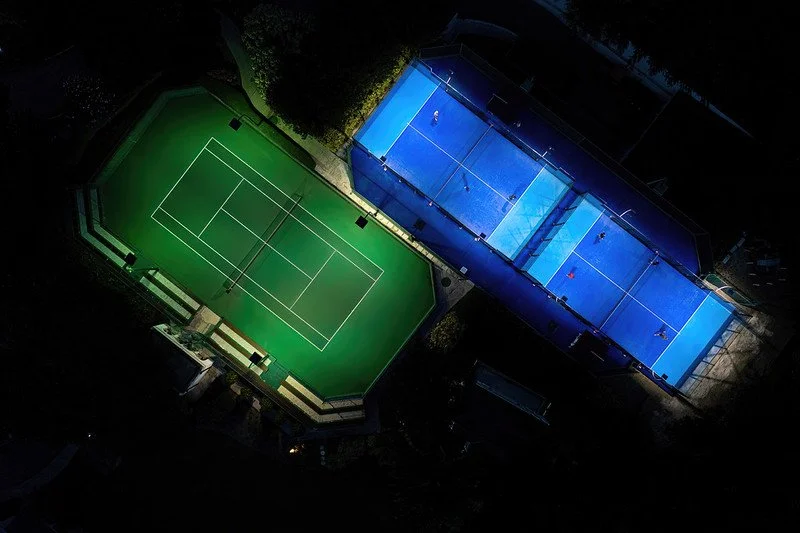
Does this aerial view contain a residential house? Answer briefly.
Yes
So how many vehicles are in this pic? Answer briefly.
0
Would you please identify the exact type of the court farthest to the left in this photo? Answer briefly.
tennis court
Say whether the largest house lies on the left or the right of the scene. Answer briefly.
left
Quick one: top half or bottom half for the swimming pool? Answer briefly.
bottom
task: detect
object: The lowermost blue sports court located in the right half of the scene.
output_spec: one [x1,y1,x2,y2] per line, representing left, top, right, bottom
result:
[521,196,731,389]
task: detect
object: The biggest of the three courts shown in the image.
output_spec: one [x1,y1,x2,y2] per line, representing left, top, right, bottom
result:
[101,91,435,398]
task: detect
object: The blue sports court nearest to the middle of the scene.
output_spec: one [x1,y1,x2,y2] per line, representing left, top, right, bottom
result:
[356,67,566,260]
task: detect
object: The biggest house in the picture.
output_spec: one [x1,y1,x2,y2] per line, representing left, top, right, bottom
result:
[128,325,212,399]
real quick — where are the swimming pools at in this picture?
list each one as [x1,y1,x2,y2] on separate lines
[472,363,554,424]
